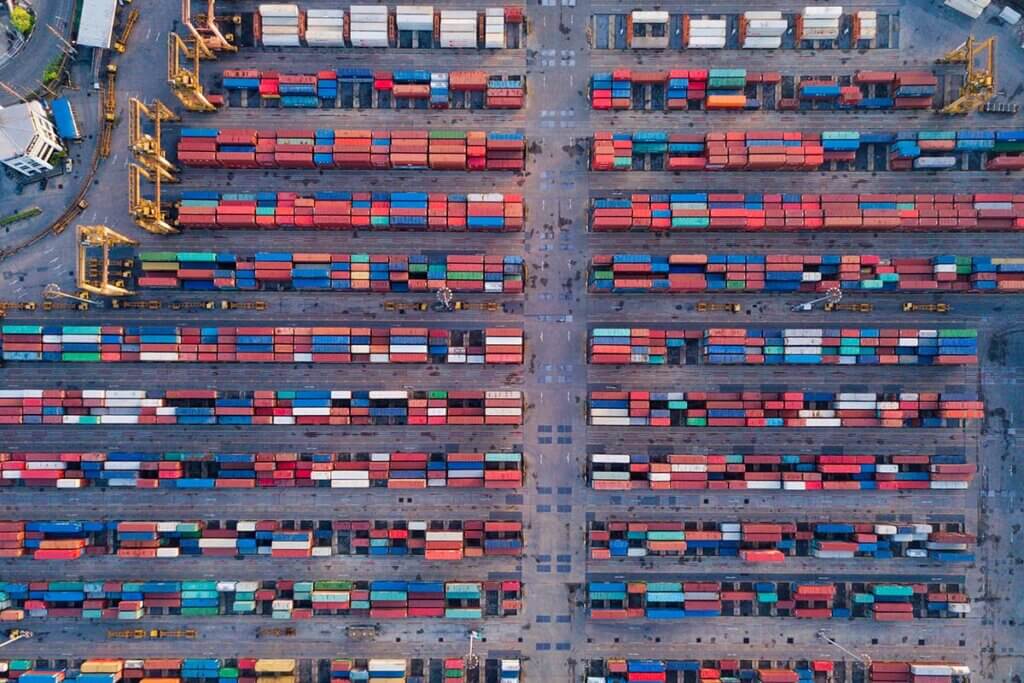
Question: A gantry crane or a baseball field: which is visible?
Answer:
gantry crane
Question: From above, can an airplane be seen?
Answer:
No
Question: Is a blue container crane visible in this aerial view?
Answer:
No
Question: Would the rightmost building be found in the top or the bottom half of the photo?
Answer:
top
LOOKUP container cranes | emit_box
[77,224,138,296]
[168,33,218,111]
[129,163,181,235]
[940,37,997,112]
[129,97,181,172]
[183,0,238,53]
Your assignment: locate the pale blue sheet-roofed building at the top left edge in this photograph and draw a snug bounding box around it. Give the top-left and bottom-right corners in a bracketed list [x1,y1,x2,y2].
[77,0,119,49]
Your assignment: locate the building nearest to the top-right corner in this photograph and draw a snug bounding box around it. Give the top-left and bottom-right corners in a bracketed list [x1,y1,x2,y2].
[995,7,1021,27]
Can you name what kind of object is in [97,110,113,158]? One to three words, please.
vehicle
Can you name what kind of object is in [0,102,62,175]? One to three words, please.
building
